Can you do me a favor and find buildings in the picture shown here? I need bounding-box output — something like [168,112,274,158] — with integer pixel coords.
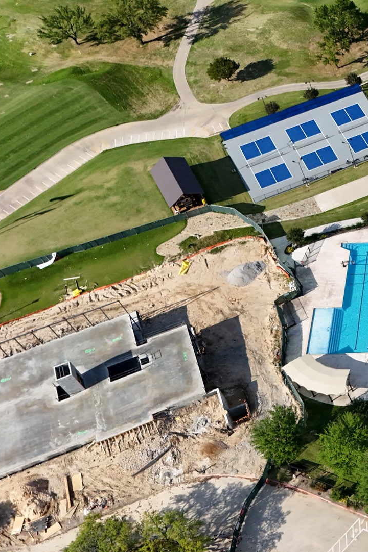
[151,156,206,212]
[0,301,232,484]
